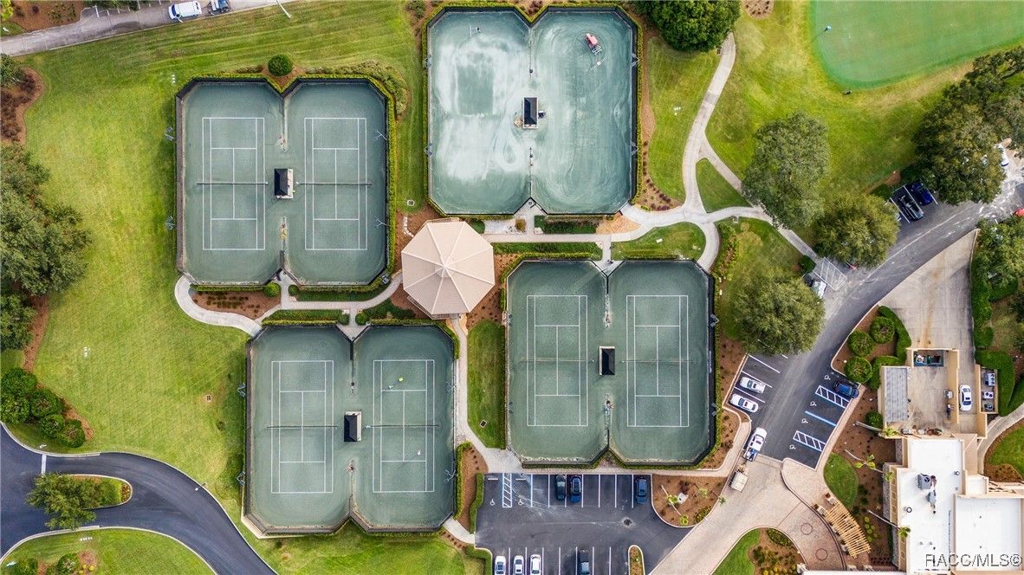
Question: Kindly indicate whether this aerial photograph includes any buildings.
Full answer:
Yes, the photo shows a building.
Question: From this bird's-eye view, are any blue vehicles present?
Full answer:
Yes, there's a blue vehicle here.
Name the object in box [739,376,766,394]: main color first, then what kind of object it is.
white car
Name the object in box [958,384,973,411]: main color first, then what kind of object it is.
white car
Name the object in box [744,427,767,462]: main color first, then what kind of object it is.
white truck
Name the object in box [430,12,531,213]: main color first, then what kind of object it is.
white tennis court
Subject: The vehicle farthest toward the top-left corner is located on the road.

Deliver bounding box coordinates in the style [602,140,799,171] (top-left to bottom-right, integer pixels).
[167,0,203,20]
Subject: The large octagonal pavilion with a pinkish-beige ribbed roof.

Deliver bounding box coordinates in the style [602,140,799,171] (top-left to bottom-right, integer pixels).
[402,217,495,320]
